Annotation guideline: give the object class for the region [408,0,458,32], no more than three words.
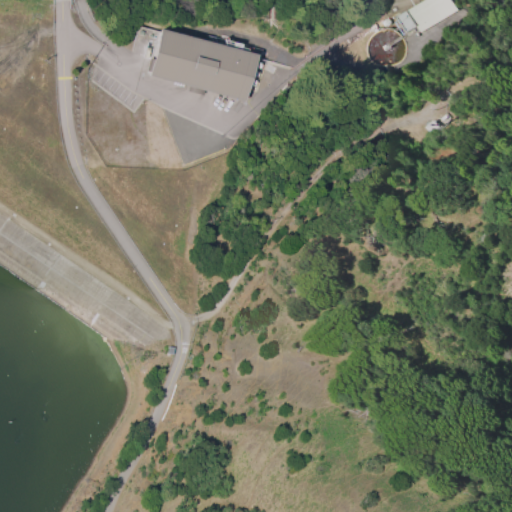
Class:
building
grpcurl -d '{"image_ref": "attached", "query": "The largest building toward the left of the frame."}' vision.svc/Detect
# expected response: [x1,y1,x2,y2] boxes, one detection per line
[149,30,260,98]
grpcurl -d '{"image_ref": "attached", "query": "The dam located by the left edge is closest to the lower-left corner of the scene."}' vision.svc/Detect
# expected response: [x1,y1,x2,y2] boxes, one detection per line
[0,202,177,346]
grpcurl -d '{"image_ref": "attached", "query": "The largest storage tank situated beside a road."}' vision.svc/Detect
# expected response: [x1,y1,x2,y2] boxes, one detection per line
[368,27,407,66]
